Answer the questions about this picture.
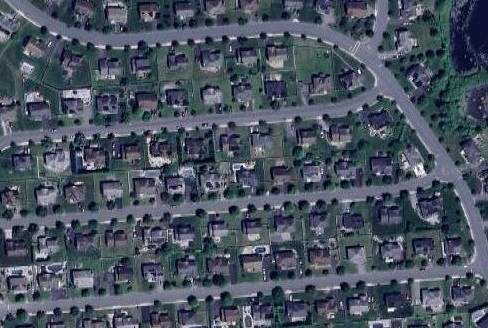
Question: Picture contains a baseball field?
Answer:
No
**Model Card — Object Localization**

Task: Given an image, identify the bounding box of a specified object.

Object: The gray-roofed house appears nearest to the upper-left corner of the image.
[0,10,22,35]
